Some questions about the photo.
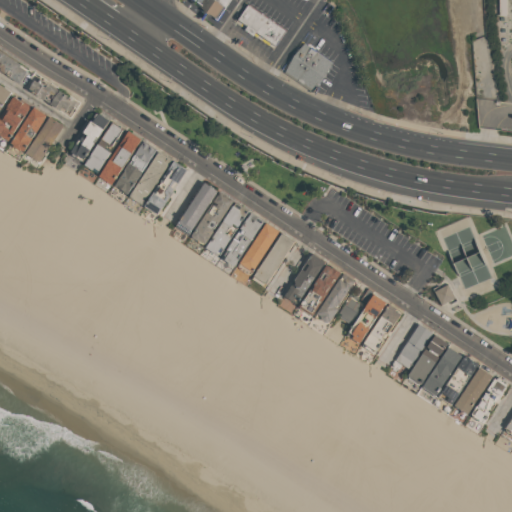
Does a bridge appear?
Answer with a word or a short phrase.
No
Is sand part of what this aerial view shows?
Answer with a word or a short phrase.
Yes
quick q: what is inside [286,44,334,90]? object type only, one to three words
building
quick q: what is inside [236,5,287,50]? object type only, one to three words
building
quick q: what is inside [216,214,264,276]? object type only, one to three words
house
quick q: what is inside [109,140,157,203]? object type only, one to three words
house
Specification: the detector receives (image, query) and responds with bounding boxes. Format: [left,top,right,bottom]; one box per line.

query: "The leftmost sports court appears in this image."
[444,228,491,288]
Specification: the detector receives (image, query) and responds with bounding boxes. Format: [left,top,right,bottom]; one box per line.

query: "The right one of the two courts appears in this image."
[484,228,512,262]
